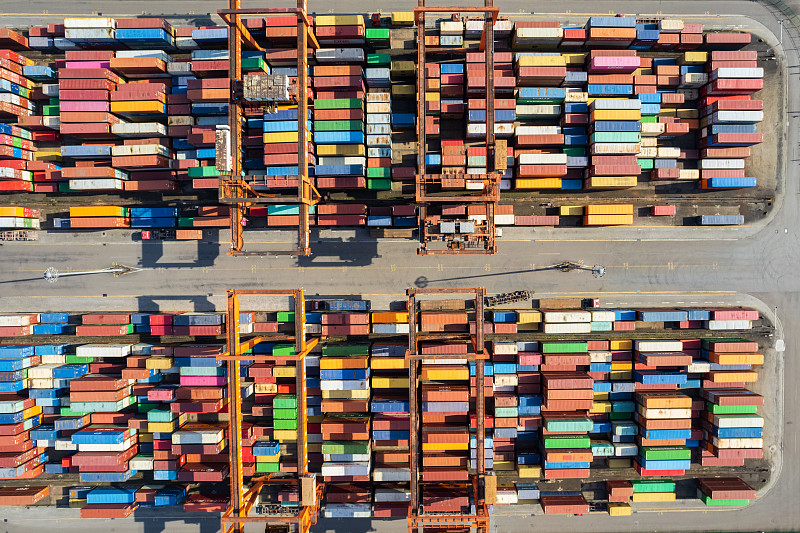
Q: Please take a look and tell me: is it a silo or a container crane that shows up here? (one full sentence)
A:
The one in the frame is a container crane.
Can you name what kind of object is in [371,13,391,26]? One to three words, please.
vehicle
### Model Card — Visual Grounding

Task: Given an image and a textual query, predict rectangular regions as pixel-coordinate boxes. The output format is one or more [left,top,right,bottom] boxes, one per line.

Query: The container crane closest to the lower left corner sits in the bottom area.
[211,290,326,533]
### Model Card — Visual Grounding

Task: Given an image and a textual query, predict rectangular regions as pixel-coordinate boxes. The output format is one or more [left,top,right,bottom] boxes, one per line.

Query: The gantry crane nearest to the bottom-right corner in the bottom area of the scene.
[405,289,499,533]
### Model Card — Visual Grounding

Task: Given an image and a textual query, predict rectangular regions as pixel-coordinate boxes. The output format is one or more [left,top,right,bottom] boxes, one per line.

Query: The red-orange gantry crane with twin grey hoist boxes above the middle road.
[412,0,508,256]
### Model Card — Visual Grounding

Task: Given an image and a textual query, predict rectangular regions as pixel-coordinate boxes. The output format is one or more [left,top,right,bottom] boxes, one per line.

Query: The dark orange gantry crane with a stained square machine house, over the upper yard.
[209,0,327,256]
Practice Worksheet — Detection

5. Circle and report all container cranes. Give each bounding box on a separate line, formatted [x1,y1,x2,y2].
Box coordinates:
[211,290,326,533]
[405,289,499,533]
[209,0,327,256]
[412,0,508,256]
